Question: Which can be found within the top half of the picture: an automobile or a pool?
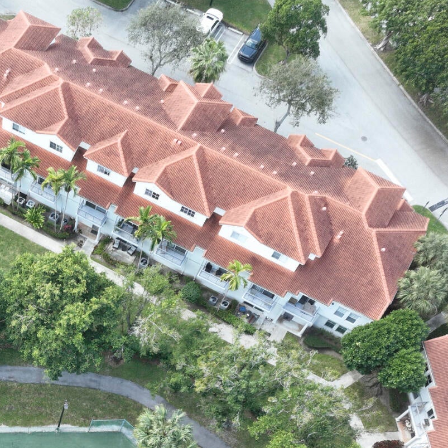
automobile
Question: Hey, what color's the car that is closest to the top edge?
white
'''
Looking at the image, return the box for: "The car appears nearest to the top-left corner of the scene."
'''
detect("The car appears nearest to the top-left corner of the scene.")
[198,4,224,36]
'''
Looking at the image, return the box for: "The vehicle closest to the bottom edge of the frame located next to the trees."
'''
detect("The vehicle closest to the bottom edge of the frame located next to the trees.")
[241,24,268,60]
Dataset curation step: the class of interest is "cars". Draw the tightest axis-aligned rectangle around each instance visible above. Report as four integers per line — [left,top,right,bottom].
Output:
[198,4,224,36]
[241,24,268,60]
